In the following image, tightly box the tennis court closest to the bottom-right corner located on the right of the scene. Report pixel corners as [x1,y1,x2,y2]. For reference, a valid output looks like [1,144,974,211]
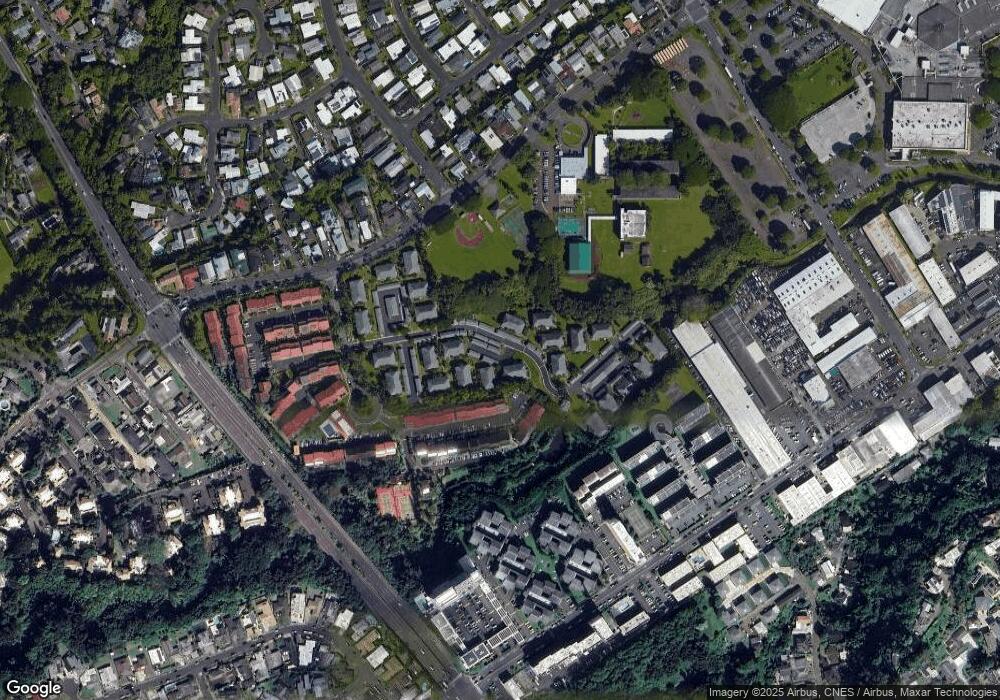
[621,505,652,539]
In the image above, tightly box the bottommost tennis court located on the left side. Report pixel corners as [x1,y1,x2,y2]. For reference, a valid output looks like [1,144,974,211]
[376,484,413,518]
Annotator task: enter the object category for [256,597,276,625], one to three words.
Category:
house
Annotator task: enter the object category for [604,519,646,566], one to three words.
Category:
building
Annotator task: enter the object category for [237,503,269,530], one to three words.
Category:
house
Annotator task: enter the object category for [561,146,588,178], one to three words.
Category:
building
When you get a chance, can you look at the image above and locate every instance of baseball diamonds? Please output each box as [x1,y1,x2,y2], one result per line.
[428,208,520,280]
